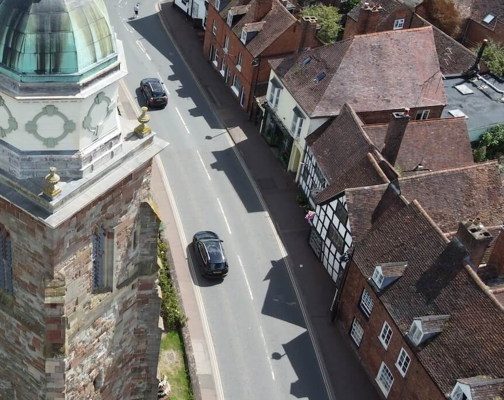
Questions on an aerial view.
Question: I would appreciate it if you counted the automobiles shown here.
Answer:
2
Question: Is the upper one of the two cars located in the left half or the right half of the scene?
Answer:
left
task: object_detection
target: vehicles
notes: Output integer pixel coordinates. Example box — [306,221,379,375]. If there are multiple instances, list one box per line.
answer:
[193,234,235,283]
[141,77,171,105]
